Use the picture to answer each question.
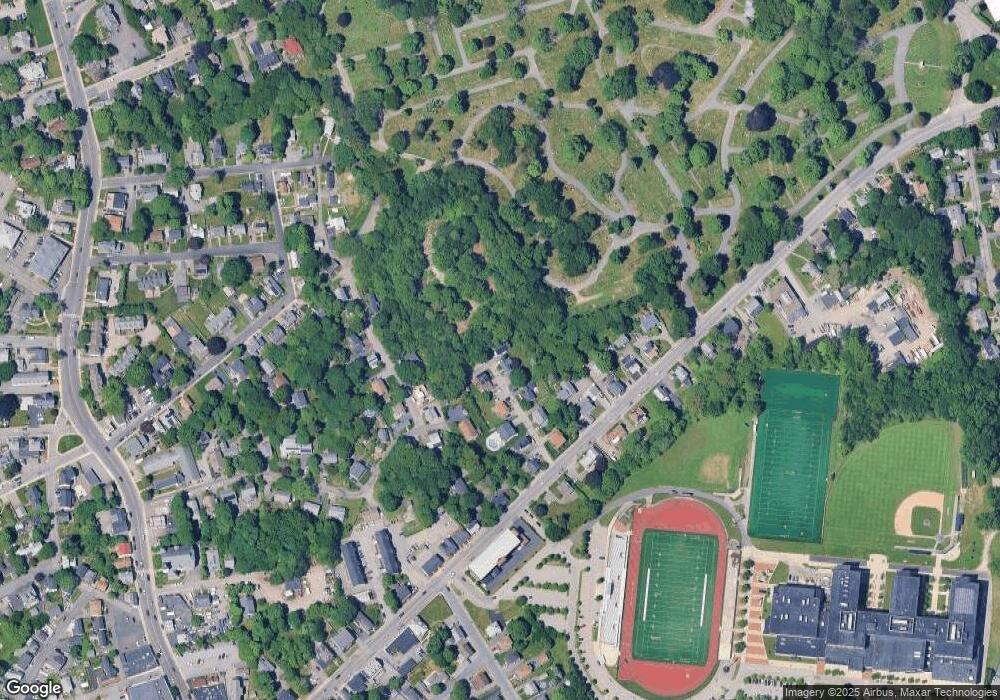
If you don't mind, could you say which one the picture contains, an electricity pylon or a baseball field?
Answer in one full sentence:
This aerial view contains a baseball field.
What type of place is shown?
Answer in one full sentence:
This image shows a residential area.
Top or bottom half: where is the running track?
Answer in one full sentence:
Seen from above, the running track lies in the bottom half of the view.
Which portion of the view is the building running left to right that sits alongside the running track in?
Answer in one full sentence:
You can find the building running left to right that sits alongside the running track in the bottom right area of the picture.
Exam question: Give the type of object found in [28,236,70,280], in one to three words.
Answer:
building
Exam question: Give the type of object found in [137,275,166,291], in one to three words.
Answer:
house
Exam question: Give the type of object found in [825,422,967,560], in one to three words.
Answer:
baseball field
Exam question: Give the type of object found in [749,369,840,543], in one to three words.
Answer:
sports field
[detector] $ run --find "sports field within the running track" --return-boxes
[633,530,719,666]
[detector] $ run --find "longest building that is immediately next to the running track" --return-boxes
[764,562,983,685]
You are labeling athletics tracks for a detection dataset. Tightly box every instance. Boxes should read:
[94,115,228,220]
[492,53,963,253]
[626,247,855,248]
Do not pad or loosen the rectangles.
[619,497,729,697]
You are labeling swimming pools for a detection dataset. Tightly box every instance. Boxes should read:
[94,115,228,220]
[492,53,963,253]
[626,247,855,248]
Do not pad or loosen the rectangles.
[483,432,502,450]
